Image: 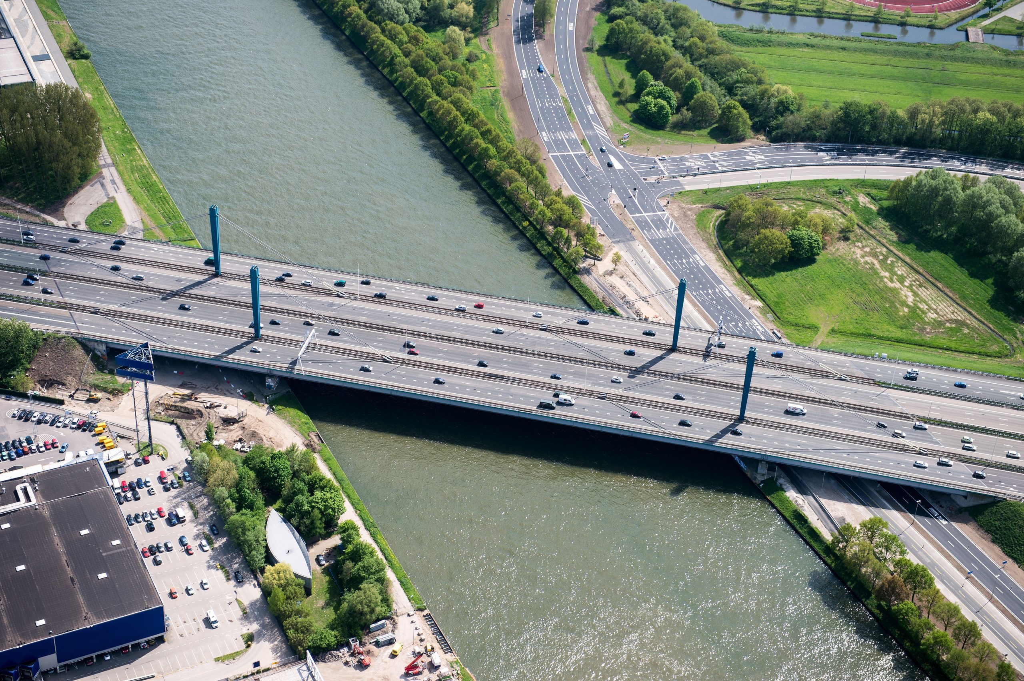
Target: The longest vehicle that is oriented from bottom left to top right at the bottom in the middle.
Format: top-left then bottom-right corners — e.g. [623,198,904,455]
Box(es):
[405,652,436,679]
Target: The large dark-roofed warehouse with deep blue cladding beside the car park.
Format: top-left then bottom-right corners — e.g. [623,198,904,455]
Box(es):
[0,459,174,681]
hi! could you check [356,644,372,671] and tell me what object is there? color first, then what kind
red work vehicle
